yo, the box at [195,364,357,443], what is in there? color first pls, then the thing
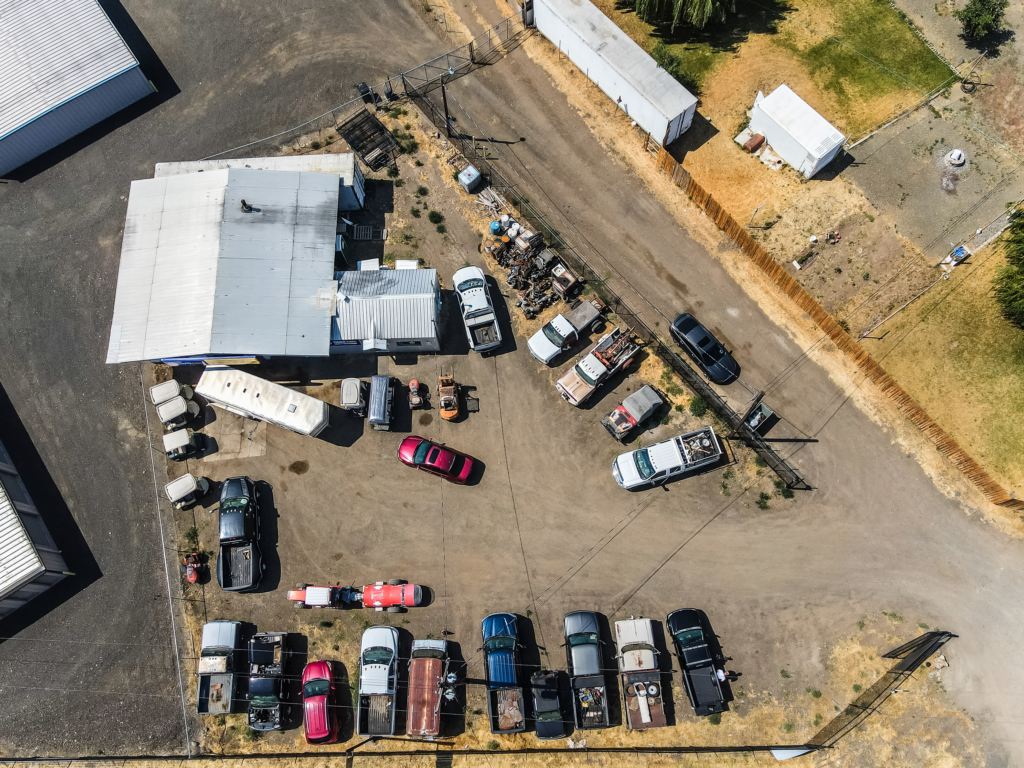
white trailer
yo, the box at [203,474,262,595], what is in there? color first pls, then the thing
black truck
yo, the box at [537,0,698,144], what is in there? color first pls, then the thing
white trailer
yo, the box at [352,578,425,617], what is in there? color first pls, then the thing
red trailer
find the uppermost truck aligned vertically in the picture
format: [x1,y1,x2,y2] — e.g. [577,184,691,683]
[453,264,501,359]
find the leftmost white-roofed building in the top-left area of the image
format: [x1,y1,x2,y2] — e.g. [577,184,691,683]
[0,0,154,175]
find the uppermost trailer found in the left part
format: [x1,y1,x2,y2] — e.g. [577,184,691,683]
[330,100,398,169]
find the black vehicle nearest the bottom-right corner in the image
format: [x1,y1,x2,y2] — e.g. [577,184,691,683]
[666,605,728,719]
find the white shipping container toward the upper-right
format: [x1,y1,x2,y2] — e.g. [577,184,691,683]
[750,82,849,179]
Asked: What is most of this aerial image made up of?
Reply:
paved ground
